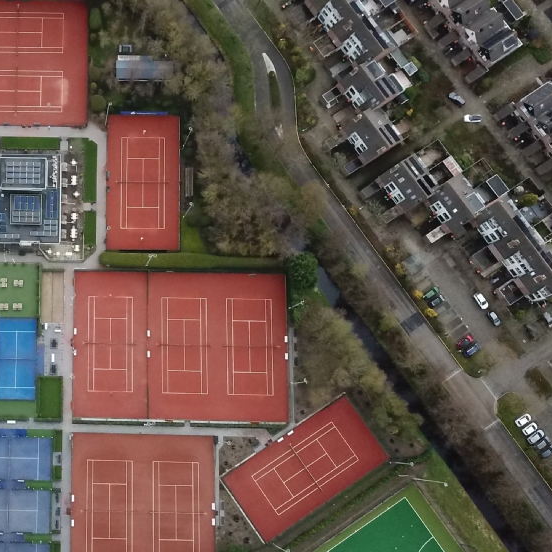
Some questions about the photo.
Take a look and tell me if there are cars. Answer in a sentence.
Yes, a car appears in the view.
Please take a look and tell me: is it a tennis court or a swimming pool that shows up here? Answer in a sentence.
The image shows a tennis court.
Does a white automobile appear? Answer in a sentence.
Yes, there's a white automobile here.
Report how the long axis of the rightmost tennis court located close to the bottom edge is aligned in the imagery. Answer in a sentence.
What the image shows is the rightmost tennis court located close to the bottom edge lying at an angle.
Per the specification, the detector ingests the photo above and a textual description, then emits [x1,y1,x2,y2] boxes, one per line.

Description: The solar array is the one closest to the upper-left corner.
[5,163,40,183]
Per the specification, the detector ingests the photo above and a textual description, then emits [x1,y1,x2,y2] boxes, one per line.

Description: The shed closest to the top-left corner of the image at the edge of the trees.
[116,55,172,84]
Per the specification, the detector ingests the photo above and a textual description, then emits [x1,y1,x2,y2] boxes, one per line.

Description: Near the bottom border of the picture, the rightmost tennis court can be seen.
[225,398,389,541]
